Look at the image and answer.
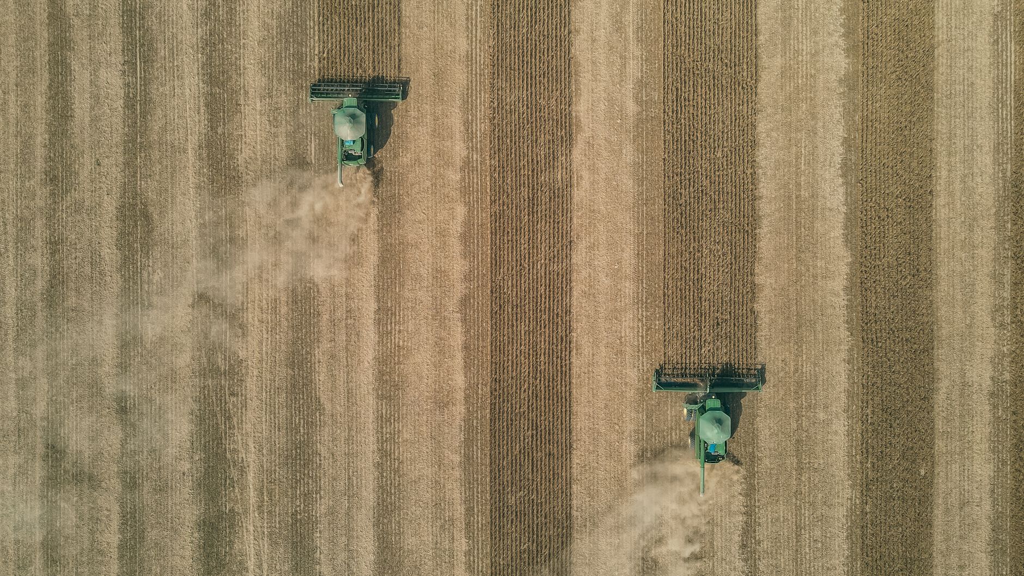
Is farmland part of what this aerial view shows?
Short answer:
Yes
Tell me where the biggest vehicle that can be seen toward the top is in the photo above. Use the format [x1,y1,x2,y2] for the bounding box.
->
[308,83,406,188]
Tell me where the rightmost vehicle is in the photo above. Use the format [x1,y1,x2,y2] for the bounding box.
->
[651,370,764,498]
